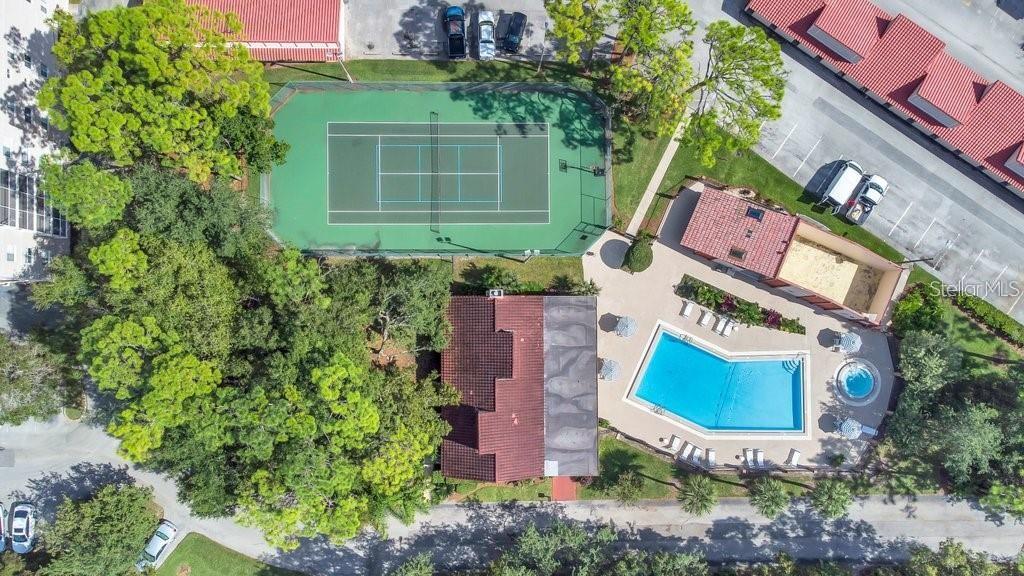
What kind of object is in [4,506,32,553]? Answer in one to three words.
car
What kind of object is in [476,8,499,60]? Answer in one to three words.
truck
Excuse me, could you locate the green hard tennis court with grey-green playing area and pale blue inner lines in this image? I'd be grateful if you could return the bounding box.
[271,92,605,253]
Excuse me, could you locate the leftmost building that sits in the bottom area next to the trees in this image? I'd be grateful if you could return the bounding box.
[441,288,599,484]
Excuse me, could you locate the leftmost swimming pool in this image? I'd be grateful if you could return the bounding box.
[624,320,812,439]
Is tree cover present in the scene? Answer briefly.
Yes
